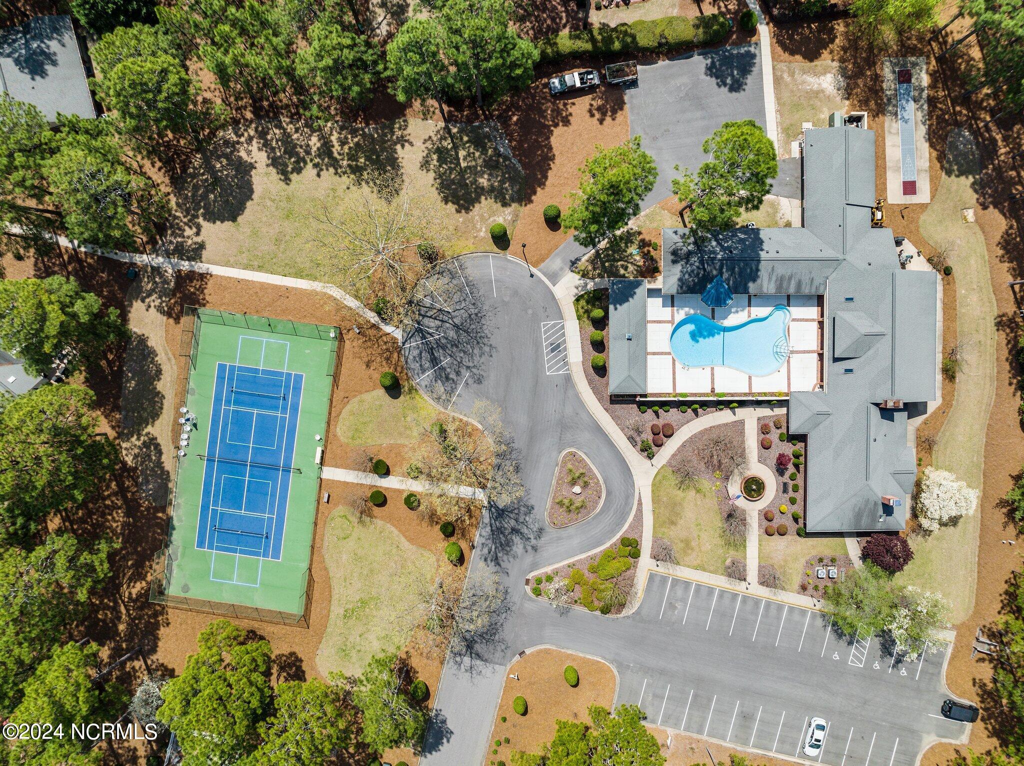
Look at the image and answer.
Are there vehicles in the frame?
Yes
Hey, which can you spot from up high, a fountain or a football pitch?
fountain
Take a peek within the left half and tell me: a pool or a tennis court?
tennis court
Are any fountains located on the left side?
No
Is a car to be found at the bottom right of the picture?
Yes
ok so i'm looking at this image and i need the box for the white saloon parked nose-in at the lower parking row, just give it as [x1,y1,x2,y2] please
[803,717,824,756]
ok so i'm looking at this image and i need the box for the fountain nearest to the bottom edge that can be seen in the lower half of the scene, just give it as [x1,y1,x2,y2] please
[741,475,769,502]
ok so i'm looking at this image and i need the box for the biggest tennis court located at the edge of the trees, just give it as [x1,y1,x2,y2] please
[162,309,336,612]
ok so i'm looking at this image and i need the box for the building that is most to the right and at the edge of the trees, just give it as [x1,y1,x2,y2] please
[661,126,937,532]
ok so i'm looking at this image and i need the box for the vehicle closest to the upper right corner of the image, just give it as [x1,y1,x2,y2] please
[869,197,886,228]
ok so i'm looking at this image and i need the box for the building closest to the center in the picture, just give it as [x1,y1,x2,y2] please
[608,279,647,395]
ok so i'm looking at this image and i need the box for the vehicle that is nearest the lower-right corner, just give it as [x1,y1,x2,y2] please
[939,698,978,723]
